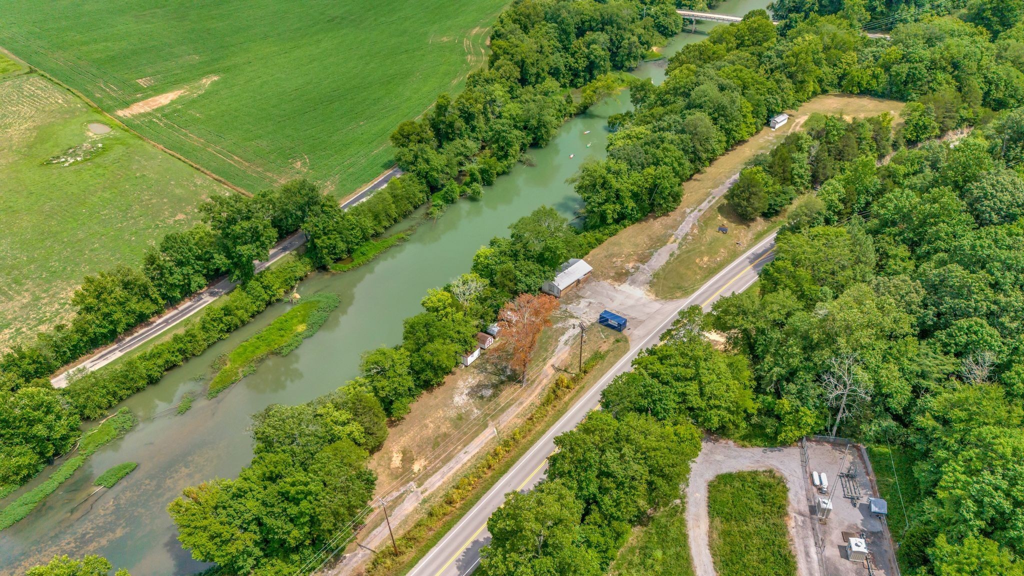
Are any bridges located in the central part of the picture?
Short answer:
No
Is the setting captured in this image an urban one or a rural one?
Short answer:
rural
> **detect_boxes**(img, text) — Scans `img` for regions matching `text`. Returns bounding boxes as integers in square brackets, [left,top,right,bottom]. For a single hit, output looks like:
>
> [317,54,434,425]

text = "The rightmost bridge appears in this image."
[679,7,749,32]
